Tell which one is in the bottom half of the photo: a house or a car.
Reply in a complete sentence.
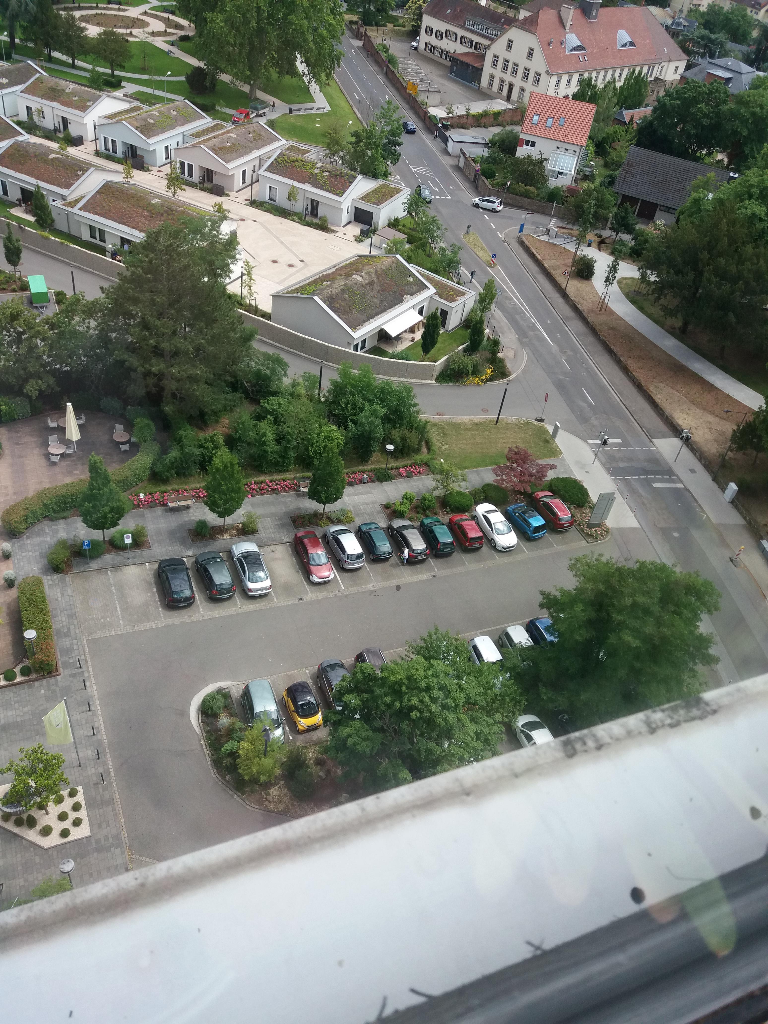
It is a car that can be seen in the bottom half of the photo.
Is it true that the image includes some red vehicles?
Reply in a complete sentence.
Yes, a red vehicle is visible in the scene.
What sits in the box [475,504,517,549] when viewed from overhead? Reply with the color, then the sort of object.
white car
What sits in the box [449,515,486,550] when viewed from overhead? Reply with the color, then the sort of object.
red car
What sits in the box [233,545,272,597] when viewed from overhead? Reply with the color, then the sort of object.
gray car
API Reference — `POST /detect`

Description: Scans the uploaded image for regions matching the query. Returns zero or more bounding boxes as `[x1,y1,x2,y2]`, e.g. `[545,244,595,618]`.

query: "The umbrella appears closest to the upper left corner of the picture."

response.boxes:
[67,403,81,455]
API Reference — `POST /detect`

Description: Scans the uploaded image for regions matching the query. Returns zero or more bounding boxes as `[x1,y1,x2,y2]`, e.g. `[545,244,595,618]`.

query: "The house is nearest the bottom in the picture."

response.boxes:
[268,253,476,353]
